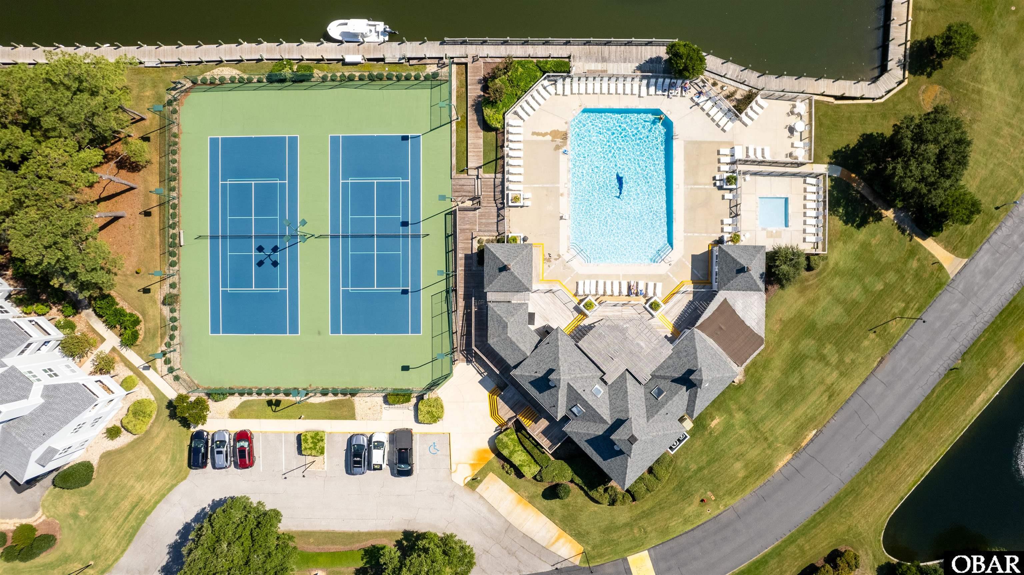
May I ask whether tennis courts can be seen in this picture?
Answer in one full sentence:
Yes, you can see a tennis court in this photo.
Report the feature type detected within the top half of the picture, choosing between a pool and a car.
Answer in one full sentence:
Looking within the top half of the picture, you will find a pool.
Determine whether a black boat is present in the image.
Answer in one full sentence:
No, the picture doesn't show any black boat.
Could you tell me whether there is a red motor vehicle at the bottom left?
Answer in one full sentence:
Yes, there is a red motor vehicle at the bottom left.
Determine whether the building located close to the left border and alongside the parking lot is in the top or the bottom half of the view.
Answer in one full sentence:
Seen from above, the building located close to the left border and alongside the parking lot lies in the bottom half of the view.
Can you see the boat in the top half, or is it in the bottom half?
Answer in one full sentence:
The boat sits in the top half of the picture.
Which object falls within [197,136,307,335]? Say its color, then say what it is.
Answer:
blue tennis court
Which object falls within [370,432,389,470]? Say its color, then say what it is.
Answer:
white car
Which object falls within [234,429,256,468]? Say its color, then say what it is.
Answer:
red car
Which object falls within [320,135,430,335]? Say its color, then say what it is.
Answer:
blue tennis court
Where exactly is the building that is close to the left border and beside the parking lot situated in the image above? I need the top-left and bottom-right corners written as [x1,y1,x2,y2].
[0,315,140,484]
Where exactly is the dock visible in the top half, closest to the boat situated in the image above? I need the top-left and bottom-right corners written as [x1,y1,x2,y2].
[0,37,681,74]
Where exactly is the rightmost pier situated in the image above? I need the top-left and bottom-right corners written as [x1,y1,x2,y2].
[679,0,912,102]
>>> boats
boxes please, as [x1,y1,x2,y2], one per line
[326,15,399,42]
